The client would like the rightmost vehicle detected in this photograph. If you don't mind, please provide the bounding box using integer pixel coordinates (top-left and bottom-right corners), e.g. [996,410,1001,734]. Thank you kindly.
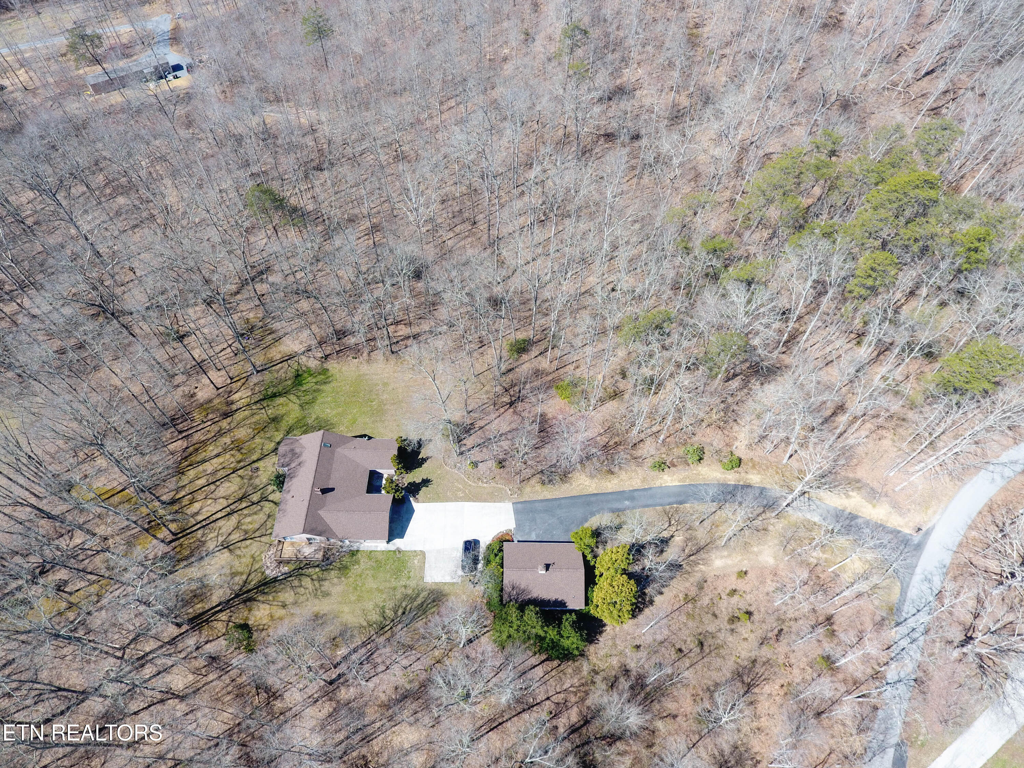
[459,542,474,574]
